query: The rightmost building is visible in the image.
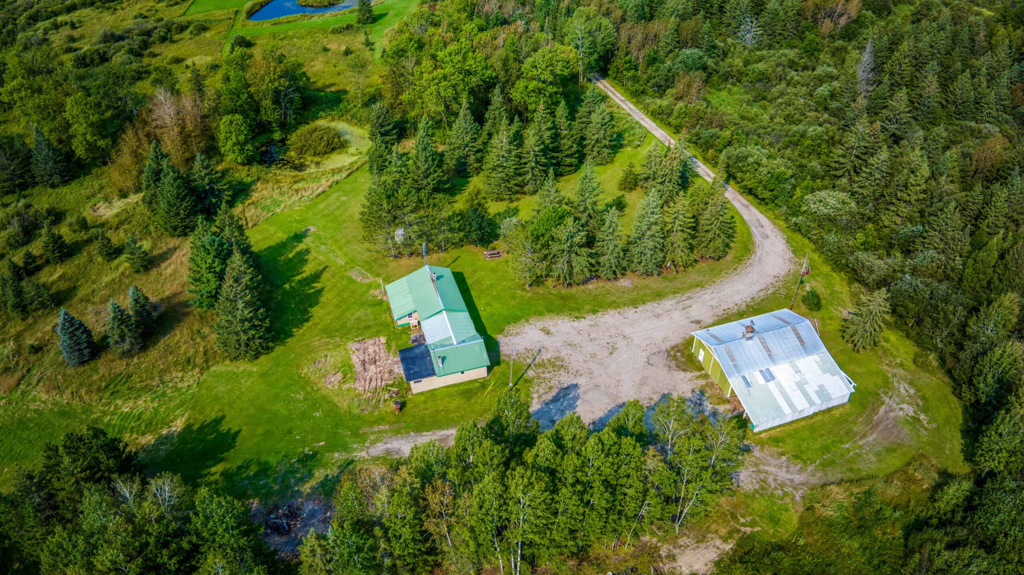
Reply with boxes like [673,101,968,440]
[693,308,854,430]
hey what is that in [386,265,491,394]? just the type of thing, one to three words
house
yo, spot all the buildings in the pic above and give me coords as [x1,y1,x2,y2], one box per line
[693,308,854,430]
[386,265,491,394]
